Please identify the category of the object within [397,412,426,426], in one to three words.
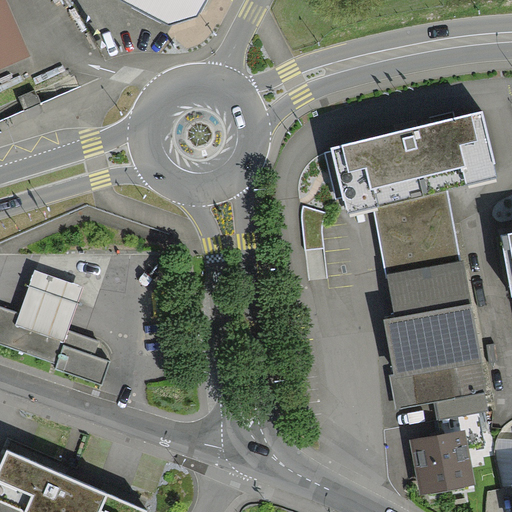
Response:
vehicle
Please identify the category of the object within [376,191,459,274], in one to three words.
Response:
building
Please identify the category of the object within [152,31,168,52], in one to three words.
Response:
car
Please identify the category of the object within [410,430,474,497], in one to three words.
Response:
house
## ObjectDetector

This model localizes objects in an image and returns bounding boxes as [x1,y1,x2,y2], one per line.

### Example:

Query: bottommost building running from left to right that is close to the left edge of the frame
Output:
[0,450,146,512]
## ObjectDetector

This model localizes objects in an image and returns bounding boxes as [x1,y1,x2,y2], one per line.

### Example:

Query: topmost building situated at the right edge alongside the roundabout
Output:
[324,110,497,223]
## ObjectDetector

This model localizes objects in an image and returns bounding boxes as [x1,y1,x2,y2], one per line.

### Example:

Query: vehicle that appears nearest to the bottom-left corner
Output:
[116,385,132,408]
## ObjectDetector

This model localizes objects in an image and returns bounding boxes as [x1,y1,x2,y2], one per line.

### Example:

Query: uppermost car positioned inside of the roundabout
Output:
[232,106,245,130]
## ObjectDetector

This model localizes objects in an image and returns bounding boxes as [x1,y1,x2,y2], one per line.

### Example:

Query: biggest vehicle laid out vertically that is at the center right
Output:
[472,276,486,306]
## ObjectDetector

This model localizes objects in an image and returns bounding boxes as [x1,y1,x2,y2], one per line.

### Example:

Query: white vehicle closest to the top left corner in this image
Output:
[101,30,118,56]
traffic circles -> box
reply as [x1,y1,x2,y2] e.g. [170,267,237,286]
[128,63,270,205]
